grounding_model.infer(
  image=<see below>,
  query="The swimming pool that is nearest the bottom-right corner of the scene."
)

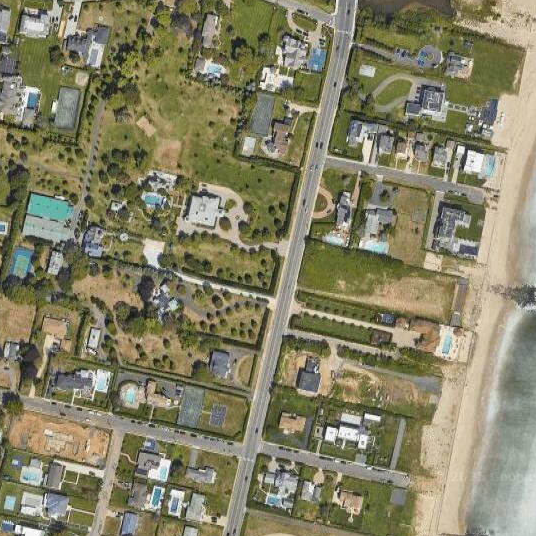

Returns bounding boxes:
[434,325,469,360]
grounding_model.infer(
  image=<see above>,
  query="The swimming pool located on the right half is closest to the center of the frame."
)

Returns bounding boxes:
[322,228,348,244]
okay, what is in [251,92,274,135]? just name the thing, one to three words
tennis court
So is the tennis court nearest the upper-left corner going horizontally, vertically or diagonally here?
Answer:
vertically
